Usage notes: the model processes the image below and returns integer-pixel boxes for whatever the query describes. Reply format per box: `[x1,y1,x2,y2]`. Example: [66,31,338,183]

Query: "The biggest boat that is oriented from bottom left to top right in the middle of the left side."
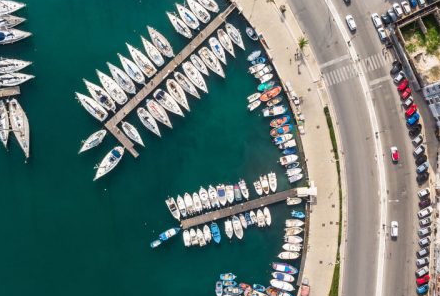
[92,144,126,181]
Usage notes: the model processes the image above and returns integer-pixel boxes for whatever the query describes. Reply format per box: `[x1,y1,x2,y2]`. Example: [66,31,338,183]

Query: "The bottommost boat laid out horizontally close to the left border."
[0,70,35,87]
